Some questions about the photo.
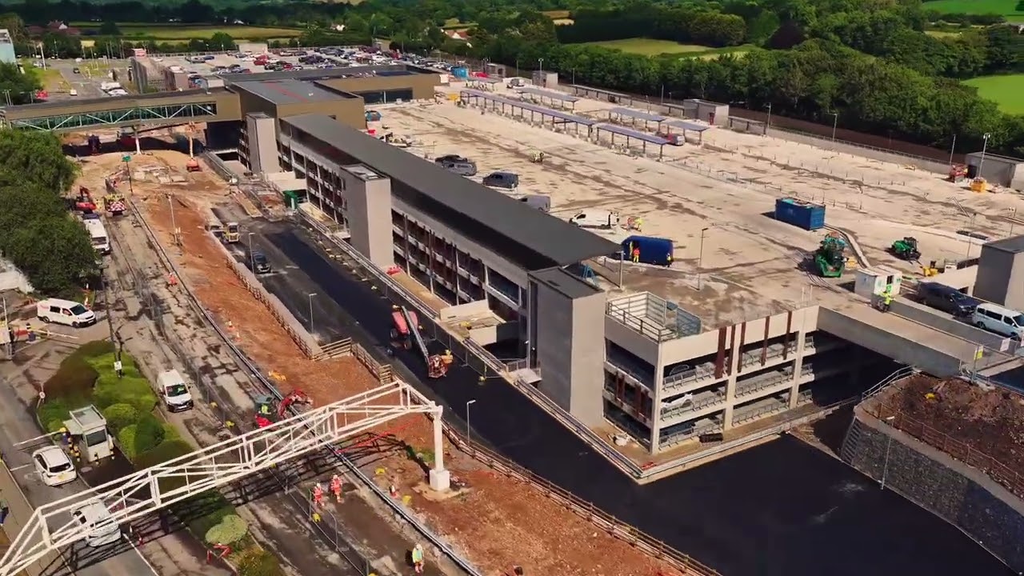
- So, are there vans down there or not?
Yes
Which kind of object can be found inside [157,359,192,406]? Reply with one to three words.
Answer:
van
